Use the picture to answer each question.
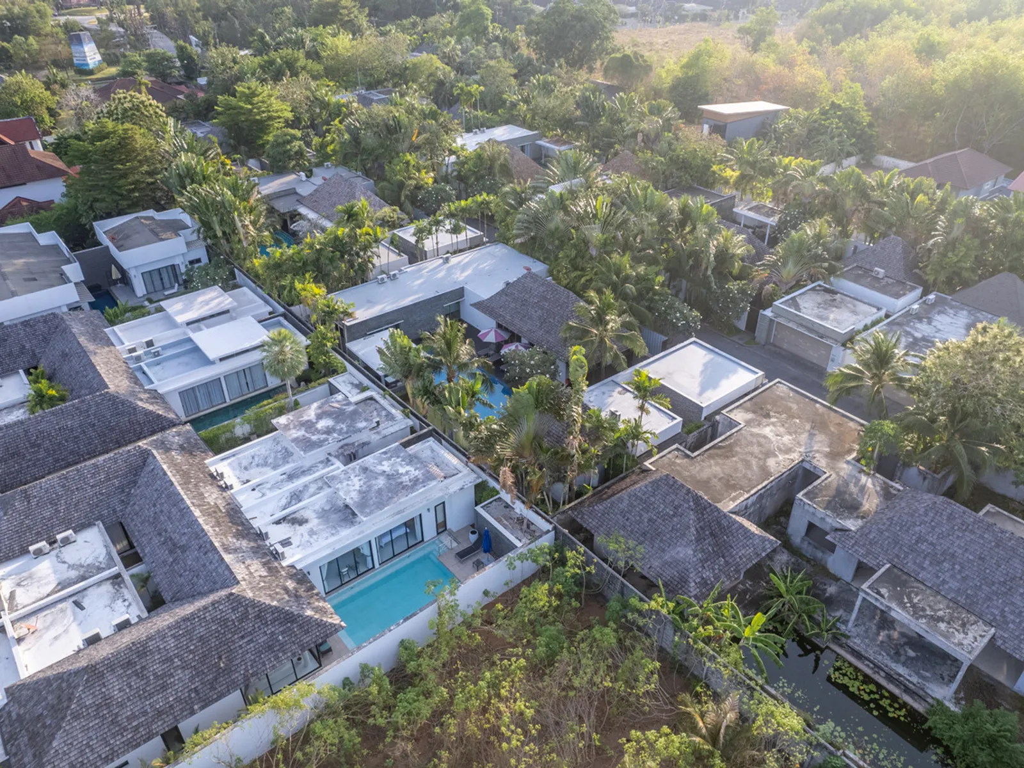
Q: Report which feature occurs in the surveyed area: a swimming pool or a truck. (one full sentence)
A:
There is a swimming pool in the scene.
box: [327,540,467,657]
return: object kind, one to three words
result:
swimming pool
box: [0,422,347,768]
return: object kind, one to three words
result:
house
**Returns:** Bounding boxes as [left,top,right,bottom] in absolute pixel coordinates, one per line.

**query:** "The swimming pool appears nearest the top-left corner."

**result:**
[80,290,134,325]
